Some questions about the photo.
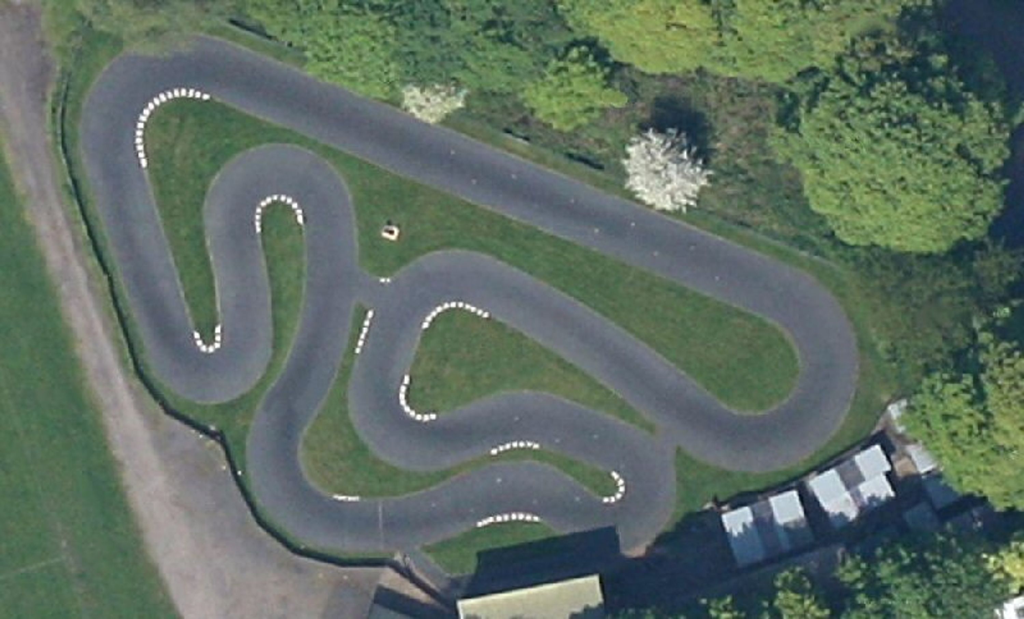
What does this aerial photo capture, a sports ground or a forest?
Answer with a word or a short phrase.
sports ground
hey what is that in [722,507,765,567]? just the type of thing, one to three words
shed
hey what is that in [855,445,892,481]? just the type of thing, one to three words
shed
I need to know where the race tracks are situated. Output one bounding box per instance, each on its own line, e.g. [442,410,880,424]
[81,32,860,611]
